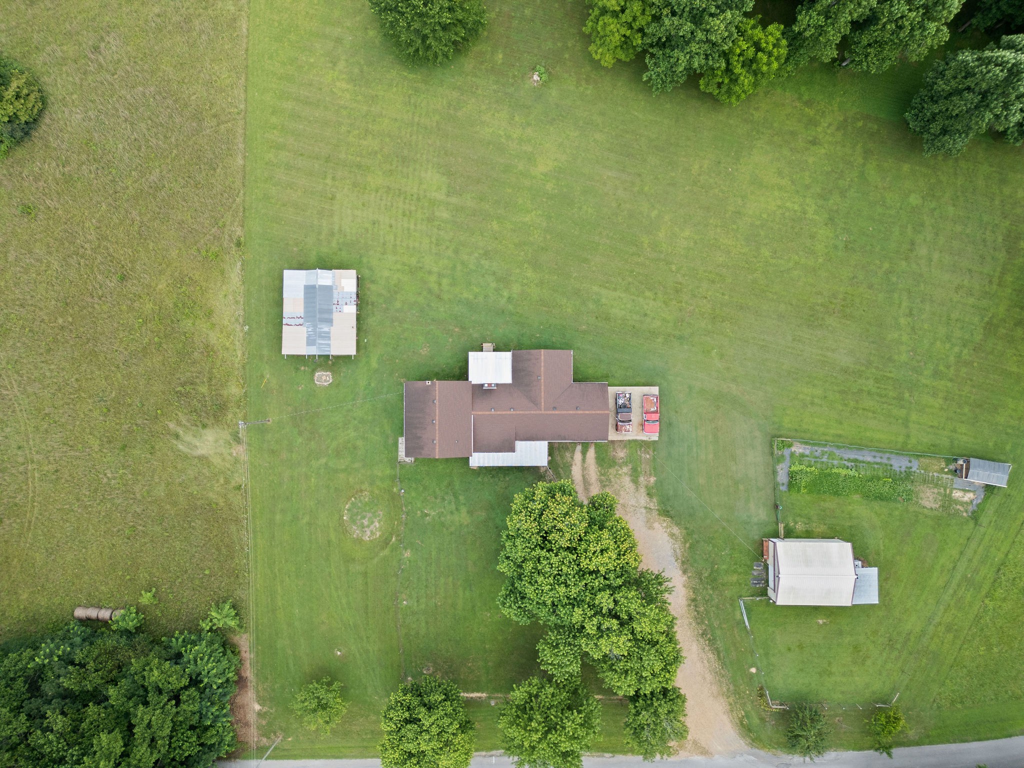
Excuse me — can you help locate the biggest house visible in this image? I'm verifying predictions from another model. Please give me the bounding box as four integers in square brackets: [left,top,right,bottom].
[403,349,611,466]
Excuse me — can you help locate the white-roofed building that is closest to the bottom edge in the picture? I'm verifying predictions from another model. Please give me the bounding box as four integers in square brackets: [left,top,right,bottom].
[769,538,878,606]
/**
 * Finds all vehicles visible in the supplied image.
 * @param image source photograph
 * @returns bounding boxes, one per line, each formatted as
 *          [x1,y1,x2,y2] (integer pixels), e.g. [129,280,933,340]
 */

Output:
[616,392,634,434]
[642,395,660,437]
